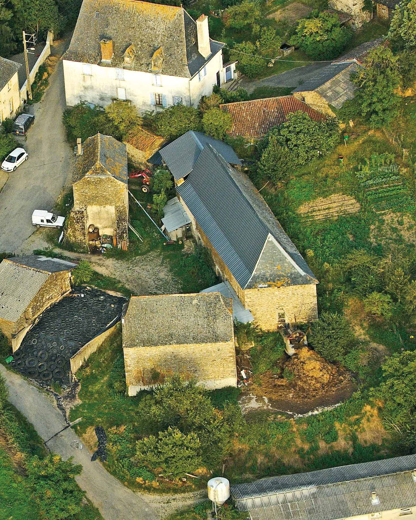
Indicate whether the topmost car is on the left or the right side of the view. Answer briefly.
left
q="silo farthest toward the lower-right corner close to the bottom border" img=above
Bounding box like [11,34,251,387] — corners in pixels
[205,471,232,520]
